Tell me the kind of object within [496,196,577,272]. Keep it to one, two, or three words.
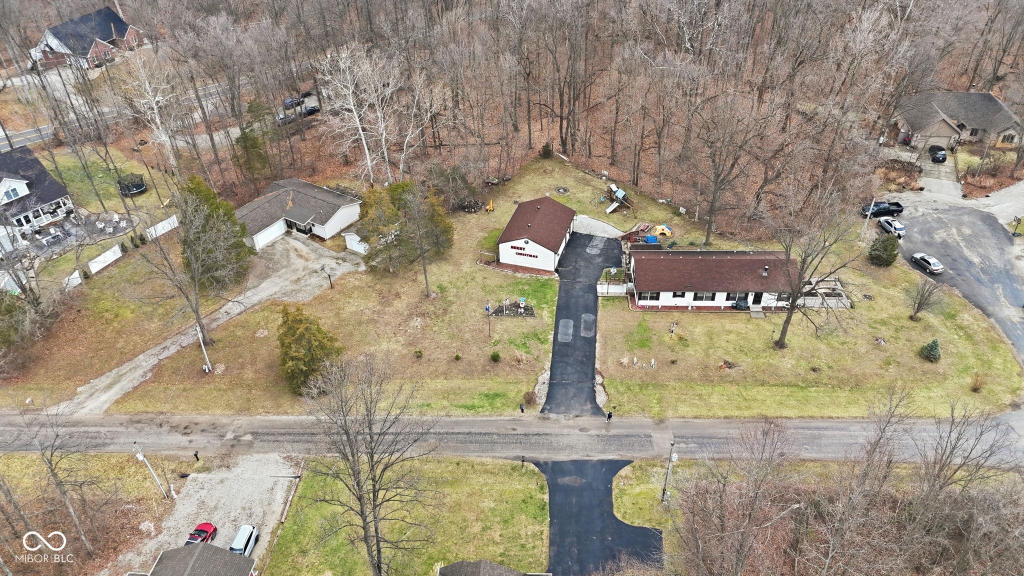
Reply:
building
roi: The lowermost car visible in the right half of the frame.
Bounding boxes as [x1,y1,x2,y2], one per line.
[909,250,950,275]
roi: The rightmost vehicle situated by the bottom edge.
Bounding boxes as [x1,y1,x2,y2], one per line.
[233,523,271,559]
